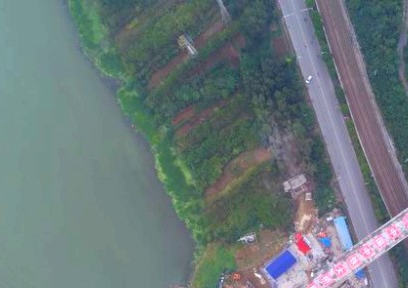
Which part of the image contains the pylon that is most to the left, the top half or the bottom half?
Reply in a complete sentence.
The top half of the photo is where the pylon that is most to the left is.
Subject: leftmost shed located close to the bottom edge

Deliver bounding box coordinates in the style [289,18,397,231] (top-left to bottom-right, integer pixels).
[268,251,294,277]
